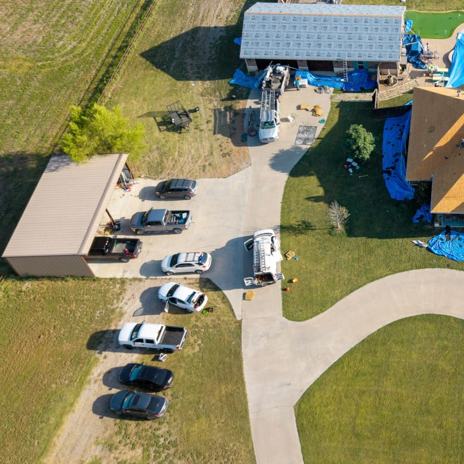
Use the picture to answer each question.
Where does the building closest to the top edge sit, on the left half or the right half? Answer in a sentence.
The building closest to the top edge is on the right side of the image.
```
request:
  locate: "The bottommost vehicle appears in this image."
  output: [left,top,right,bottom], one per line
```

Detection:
[104,387,170,422]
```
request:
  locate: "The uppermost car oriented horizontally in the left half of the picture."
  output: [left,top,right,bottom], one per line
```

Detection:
[150,173,202,197]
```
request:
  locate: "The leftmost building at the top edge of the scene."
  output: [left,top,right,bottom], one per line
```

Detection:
[240,2,410,77]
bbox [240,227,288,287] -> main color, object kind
white van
